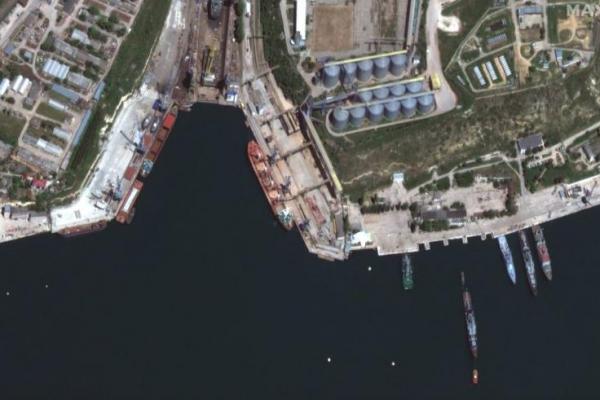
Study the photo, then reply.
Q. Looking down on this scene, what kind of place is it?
port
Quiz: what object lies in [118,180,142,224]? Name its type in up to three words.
ship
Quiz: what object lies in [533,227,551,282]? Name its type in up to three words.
ship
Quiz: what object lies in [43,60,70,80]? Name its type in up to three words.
building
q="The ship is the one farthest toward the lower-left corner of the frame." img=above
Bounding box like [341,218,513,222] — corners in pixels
[59,222,108,237]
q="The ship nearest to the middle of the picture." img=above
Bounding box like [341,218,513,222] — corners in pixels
[248,139,293,232]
